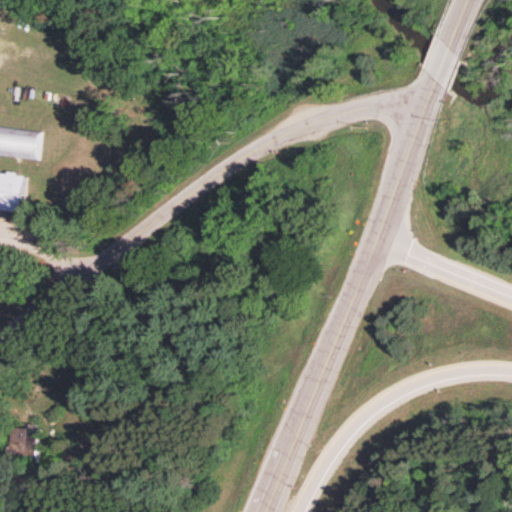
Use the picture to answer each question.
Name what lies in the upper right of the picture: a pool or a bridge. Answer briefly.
bridge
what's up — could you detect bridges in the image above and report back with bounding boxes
[419,34,465,105]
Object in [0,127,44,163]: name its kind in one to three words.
building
